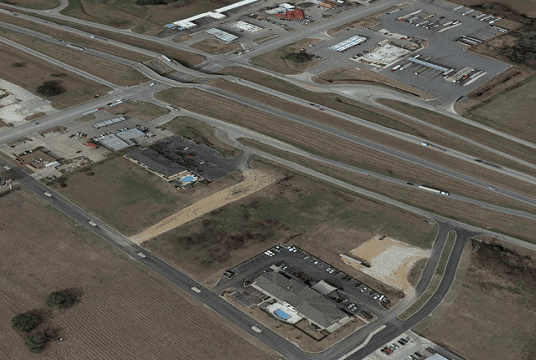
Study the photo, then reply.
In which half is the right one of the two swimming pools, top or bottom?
bottom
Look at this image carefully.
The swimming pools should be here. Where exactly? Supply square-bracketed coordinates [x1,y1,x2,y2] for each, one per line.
[174,172,202,188]
[267,303,301,323]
